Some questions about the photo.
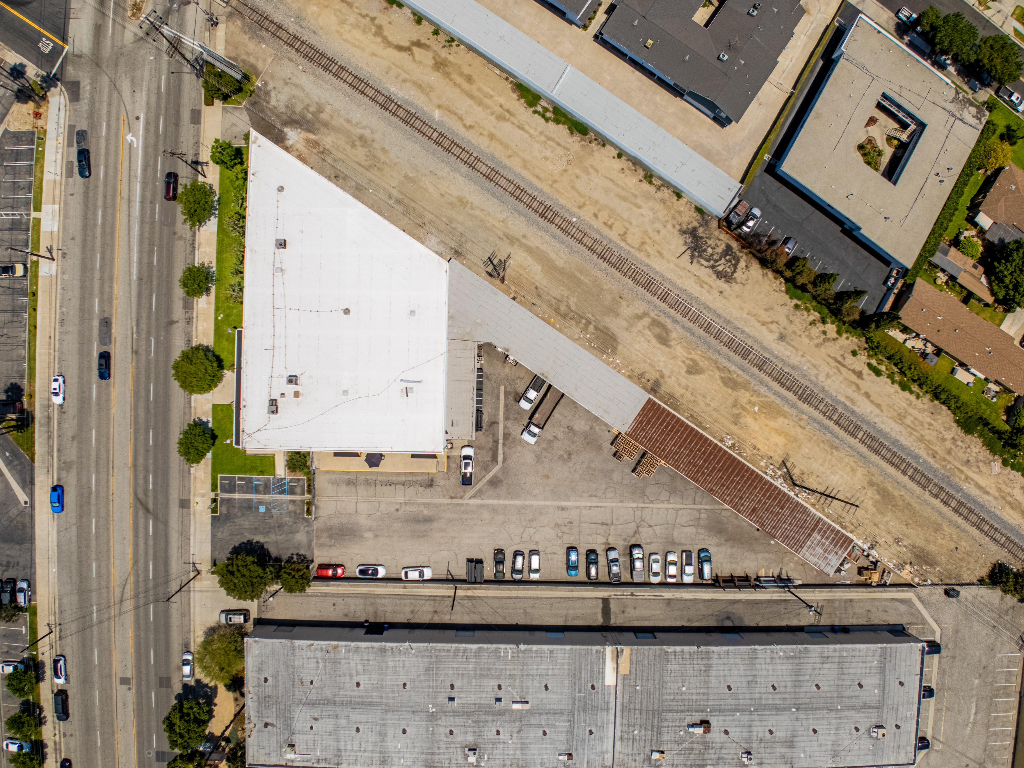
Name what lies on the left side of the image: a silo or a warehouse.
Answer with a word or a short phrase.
warehouse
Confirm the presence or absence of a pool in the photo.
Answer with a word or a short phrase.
No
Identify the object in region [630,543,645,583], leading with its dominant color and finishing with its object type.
gray vehicle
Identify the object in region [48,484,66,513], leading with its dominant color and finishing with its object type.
blue car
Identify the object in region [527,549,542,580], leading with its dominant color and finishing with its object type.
white car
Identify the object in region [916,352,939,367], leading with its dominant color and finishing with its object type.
gray gazebo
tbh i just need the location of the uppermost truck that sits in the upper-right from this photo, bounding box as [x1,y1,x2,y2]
[892,0,922,31]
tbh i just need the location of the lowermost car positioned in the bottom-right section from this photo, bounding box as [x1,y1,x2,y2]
[916,735,930,750]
